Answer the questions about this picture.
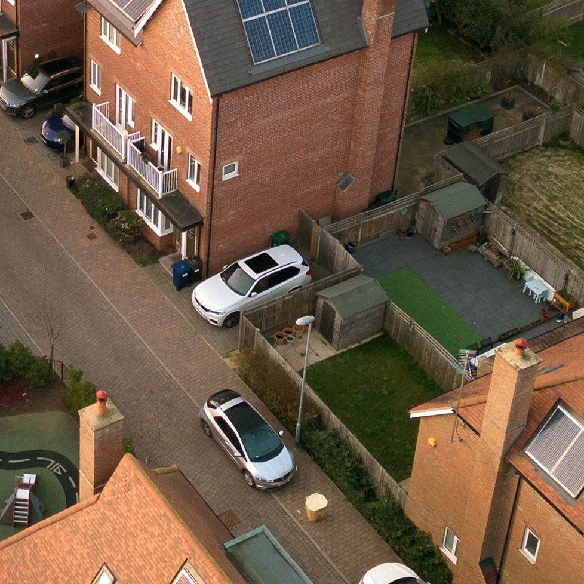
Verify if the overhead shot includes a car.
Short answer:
Yes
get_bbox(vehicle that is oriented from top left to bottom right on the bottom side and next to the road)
[201,388,299,490]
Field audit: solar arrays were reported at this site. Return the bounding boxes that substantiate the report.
[236,0,329,76]
[96,0,159,35]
